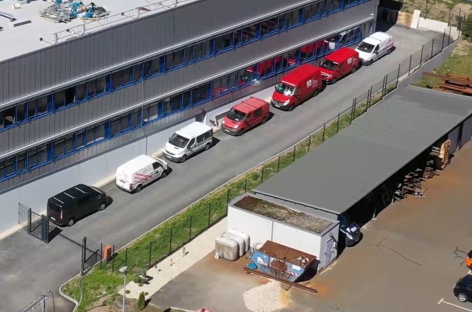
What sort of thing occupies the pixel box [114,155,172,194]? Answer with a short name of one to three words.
van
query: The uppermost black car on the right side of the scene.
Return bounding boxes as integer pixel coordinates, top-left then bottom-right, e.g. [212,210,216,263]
[338,214,365,251]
